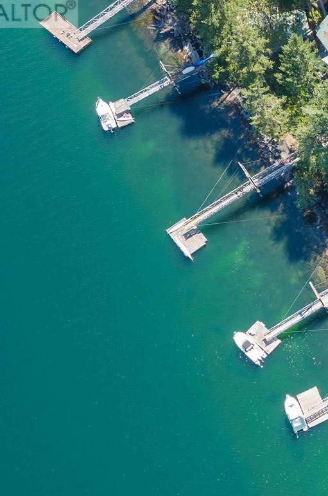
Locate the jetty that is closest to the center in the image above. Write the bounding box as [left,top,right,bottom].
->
[166,218,209,255]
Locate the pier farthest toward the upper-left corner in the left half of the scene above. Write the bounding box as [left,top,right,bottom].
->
[39,12,92,54]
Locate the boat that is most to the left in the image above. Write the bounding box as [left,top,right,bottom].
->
[95,98,117,132]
